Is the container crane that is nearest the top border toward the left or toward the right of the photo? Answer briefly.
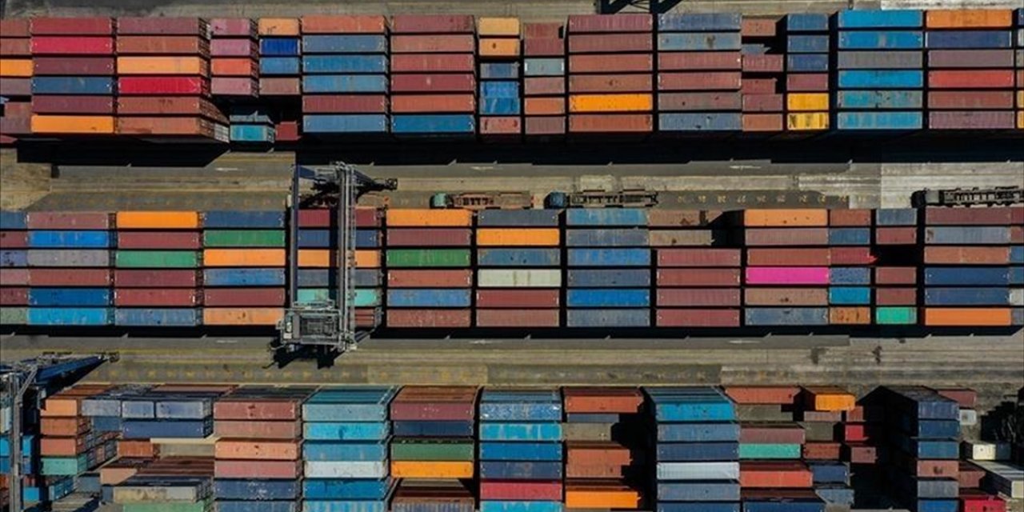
left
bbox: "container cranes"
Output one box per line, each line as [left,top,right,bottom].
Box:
[273,158,397,360]
[0,350,120,512]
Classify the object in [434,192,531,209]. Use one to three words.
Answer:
vehicle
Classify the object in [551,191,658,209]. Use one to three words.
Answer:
vehicle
